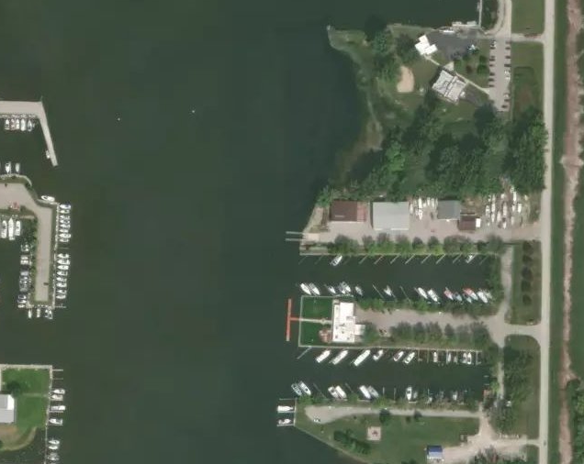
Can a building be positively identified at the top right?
Yes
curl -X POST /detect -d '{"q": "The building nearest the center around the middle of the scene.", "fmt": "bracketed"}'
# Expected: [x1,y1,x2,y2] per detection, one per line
[330,201,366,221]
